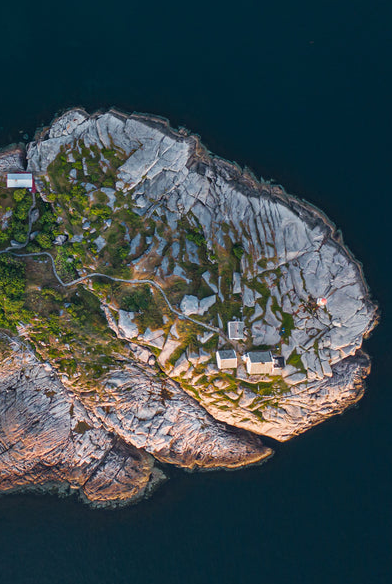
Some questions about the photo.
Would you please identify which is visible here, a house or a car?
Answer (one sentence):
The image shows a house.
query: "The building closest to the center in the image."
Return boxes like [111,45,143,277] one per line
[225,320,243,340]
